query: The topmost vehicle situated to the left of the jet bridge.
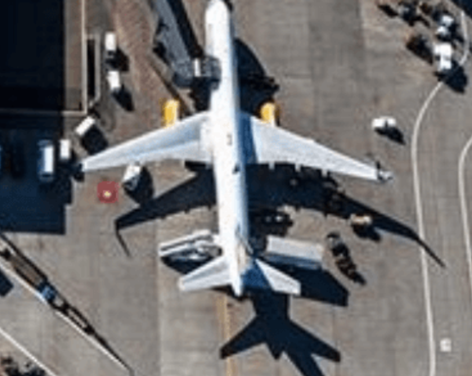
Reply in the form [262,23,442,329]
[102,33,119,67]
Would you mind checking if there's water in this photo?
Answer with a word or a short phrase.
No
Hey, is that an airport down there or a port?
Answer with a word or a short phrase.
airport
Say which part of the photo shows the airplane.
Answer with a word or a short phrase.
center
